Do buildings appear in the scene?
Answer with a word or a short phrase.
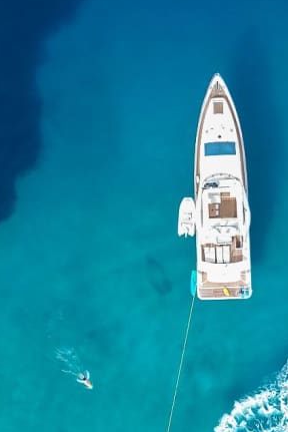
No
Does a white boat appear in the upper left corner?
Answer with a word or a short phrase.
No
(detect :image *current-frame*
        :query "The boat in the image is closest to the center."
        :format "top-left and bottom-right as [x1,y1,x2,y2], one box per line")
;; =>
[179,198,194,237]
